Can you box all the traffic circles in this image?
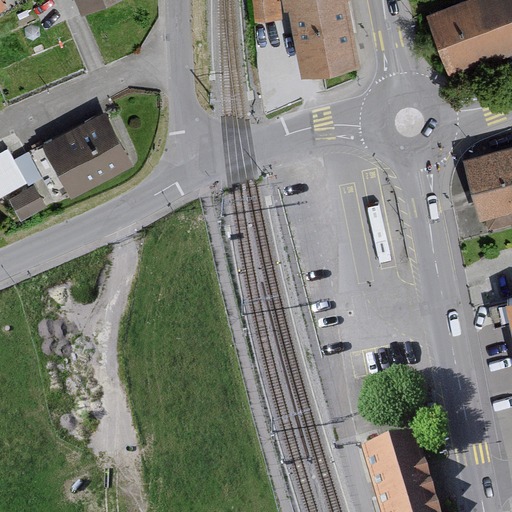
[394,106,425,138]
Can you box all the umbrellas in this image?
[25,24,40,40]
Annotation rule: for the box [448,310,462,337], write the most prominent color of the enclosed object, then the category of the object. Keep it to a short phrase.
white vehicle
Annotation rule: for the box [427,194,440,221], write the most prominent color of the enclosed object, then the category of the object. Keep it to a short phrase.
white vehicle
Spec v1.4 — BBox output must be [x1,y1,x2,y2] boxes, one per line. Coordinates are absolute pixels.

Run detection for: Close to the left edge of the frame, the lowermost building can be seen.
[9,185,47,222]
